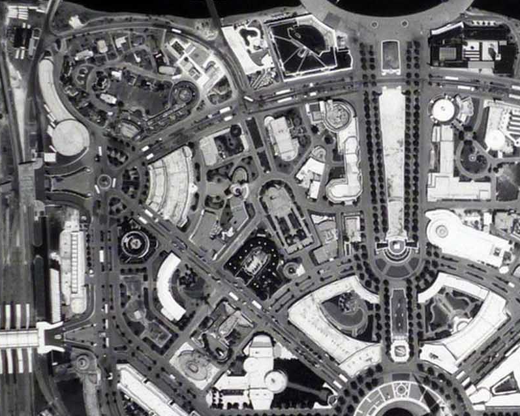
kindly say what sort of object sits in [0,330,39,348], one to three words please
bridge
